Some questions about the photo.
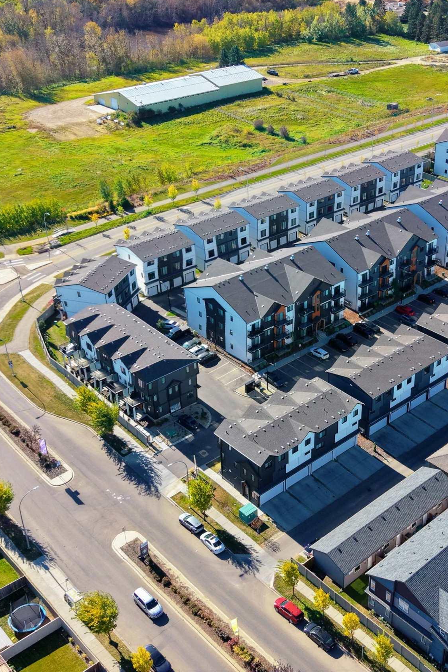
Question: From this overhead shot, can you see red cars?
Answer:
Yes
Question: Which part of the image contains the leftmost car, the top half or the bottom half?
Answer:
bottom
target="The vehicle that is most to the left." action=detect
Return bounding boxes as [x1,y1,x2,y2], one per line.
[134,590,162,616]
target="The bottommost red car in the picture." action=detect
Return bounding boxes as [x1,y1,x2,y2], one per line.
[276,596,305,622]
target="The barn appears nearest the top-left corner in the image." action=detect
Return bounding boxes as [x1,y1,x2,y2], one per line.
[100,66,269,116]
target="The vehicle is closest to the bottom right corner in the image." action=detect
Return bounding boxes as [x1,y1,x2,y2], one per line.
[307,622,336,648]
